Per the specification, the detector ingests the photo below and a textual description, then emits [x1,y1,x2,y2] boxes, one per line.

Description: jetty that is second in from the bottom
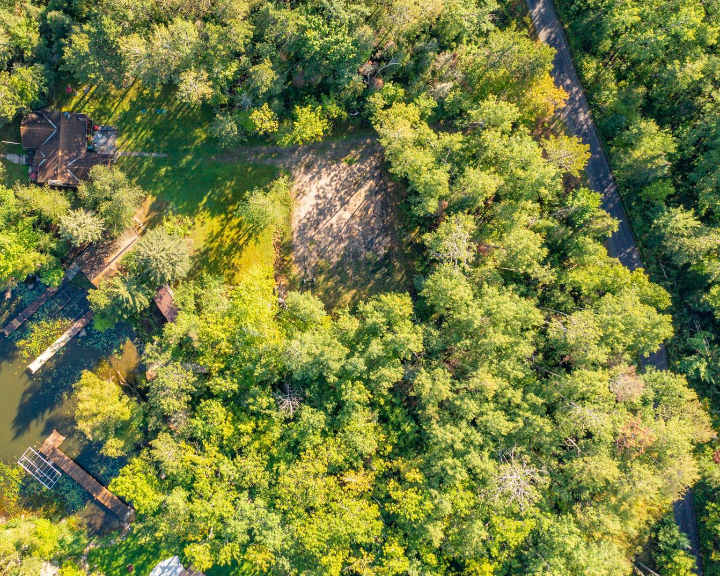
[26,311,95,374]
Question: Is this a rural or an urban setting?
rural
